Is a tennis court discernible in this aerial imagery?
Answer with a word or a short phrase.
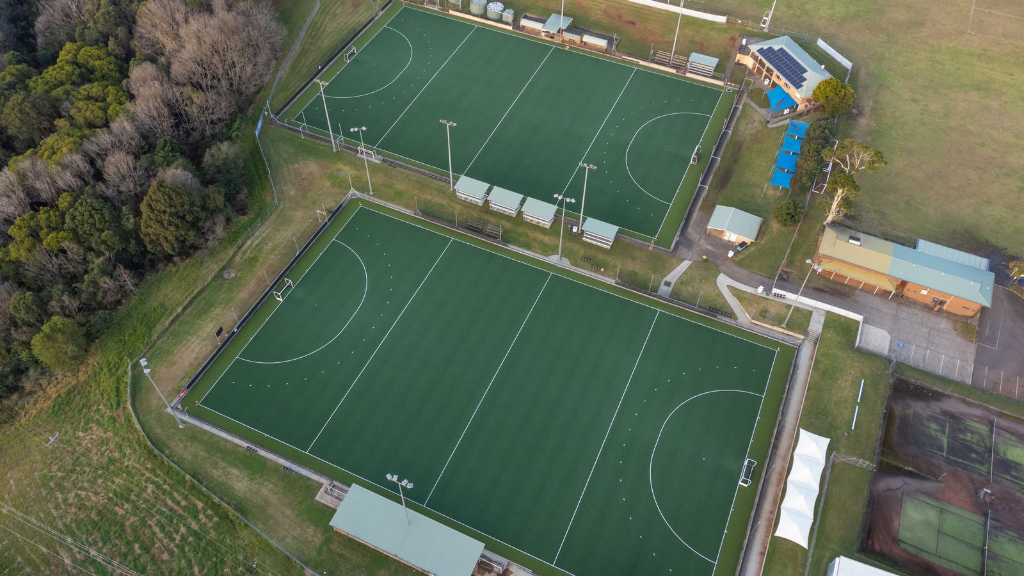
Yes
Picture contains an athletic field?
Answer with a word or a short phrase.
Yes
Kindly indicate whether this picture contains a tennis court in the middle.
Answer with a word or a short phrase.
No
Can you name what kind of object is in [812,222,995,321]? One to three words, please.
building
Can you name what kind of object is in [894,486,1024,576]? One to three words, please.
tennis court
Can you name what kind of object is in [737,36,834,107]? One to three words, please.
building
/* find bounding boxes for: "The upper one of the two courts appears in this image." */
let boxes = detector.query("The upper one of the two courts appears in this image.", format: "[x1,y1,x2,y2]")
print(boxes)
[902,404,1024,500]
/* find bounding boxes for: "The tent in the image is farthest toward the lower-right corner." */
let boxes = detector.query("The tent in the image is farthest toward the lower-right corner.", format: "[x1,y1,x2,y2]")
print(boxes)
[772,429,830,552]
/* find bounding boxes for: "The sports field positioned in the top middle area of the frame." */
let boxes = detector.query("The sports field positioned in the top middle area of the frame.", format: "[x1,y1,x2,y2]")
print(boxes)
[278,0,737,248]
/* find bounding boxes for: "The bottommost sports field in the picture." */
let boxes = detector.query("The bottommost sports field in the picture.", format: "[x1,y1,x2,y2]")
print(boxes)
[178,195,798,576]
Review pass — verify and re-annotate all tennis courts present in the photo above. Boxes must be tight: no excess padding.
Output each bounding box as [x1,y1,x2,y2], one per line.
[902,404,1024,500]
[894,486,1024,576]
